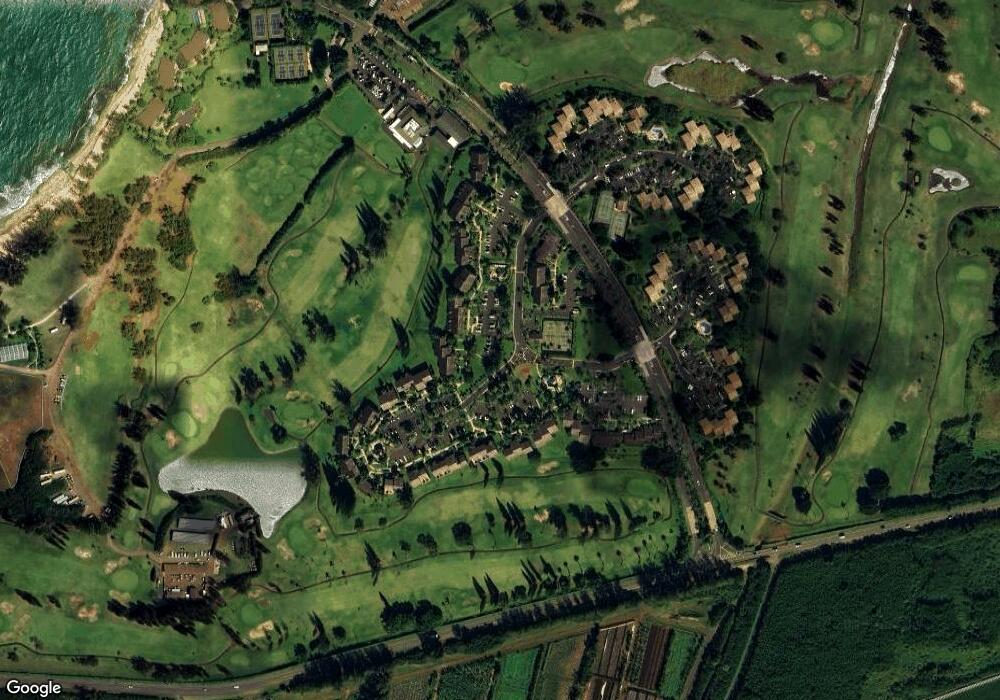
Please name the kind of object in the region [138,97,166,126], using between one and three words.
house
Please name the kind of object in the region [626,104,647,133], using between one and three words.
building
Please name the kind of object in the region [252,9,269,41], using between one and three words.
tennis court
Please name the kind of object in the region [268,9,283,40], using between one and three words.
tennis court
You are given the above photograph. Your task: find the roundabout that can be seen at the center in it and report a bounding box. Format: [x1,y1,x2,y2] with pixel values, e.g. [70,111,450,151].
[512,346,539,383]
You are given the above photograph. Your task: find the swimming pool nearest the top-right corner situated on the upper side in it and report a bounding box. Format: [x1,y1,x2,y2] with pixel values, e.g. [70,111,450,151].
[647,124,665,139]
